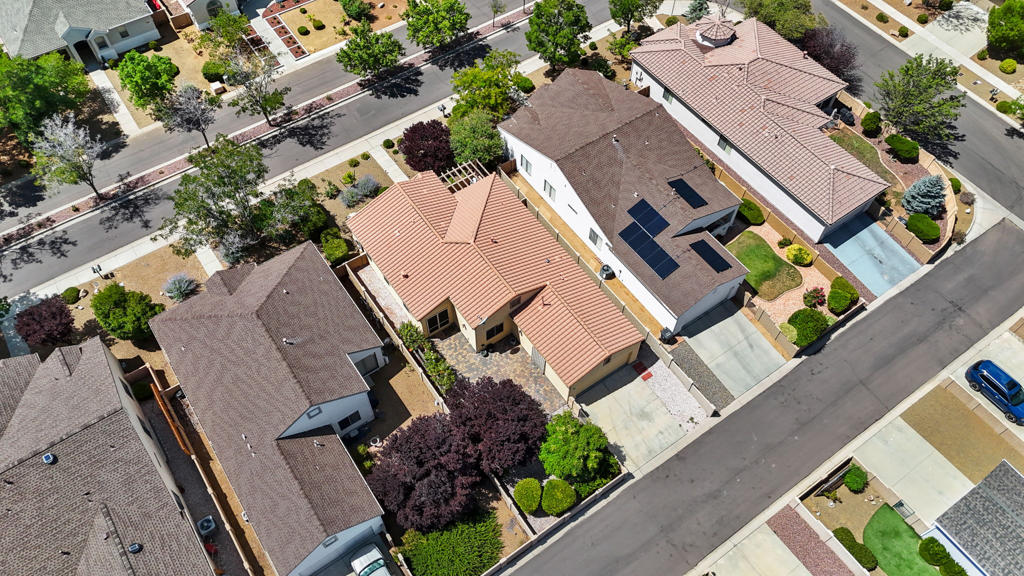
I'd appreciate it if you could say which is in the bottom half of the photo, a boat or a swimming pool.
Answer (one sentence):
It is a boat that can be seen in the bottom half of the photo.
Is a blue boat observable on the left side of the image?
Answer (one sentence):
No, no blue boat can be made out on the left side of the image.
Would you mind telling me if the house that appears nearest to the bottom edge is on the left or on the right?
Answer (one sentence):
The house that appears nearest to the bottom edge appears in the right half of the scene.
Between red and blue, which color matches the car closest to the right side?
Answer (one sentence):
From above, the car closest to the right side appears blue.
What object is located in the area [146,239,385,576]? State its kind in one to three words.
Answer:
house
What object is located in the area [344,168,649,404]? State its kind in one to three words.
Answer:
house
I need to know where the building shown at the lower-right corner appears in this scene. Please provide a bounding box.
[920,460,1024,576]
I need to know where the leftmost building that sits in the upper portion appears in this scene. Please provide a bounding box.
[0,0,161,70]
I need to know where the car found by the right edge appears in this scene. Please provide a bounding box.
[967,360,1024,426]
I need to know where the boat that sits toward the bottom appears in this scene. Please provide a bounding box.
[150,380,187,454]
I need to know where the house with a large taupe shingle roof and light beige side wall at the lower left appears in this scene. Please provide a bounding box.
[0,337,218,576]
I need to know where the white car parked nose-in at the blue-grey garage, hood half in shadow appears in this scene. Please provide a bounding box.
[352,540,403,576]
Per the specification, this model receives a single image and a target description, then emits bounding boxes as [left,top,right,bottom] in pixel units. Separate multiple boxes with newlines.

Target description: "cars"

[967,360,1024,426]
[352,540,403,576]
